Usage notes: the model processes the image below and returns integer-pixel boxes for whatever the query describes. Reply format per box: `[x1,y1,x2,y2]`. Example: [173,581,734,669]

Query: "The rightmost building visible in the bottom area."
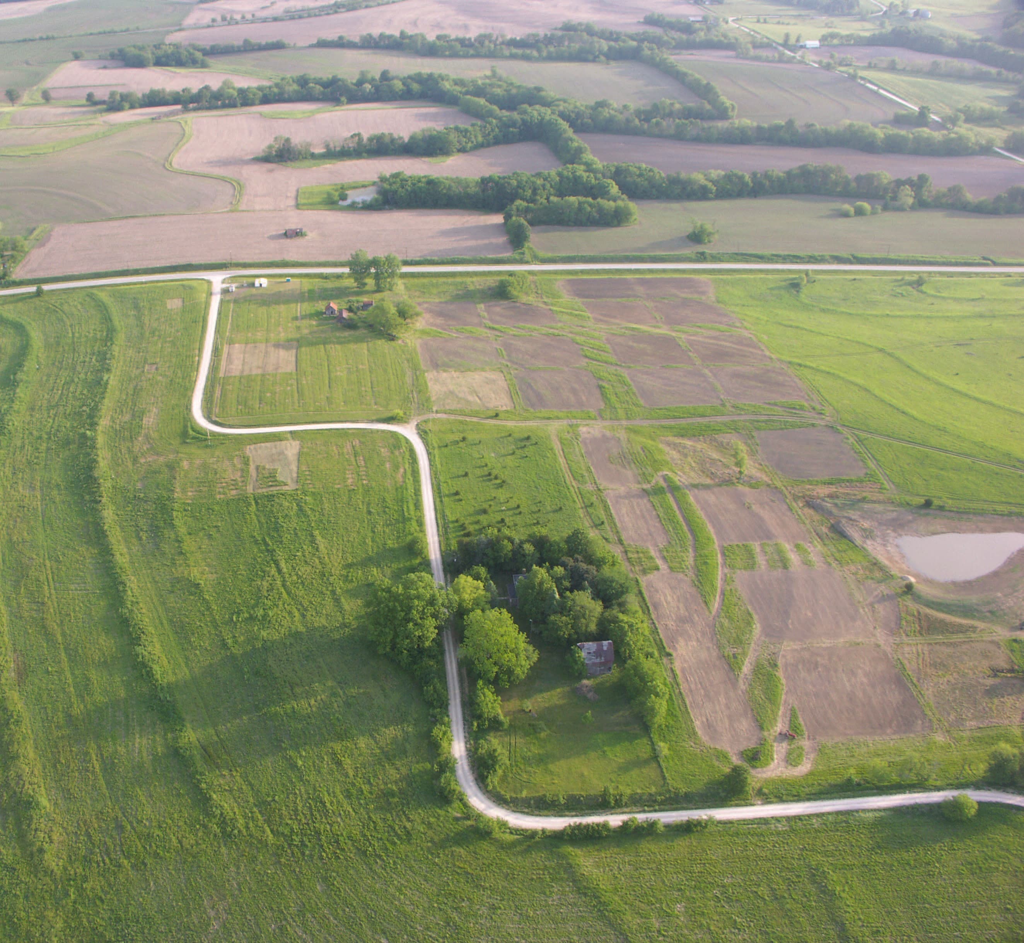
[572,639,612,675]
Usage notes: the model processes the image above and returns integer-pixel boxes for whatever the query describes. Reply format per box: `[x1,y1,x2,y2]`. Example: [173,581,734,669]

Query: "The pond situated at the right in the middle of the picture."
[897,535,1024,583]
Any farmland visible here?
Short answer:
Yes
